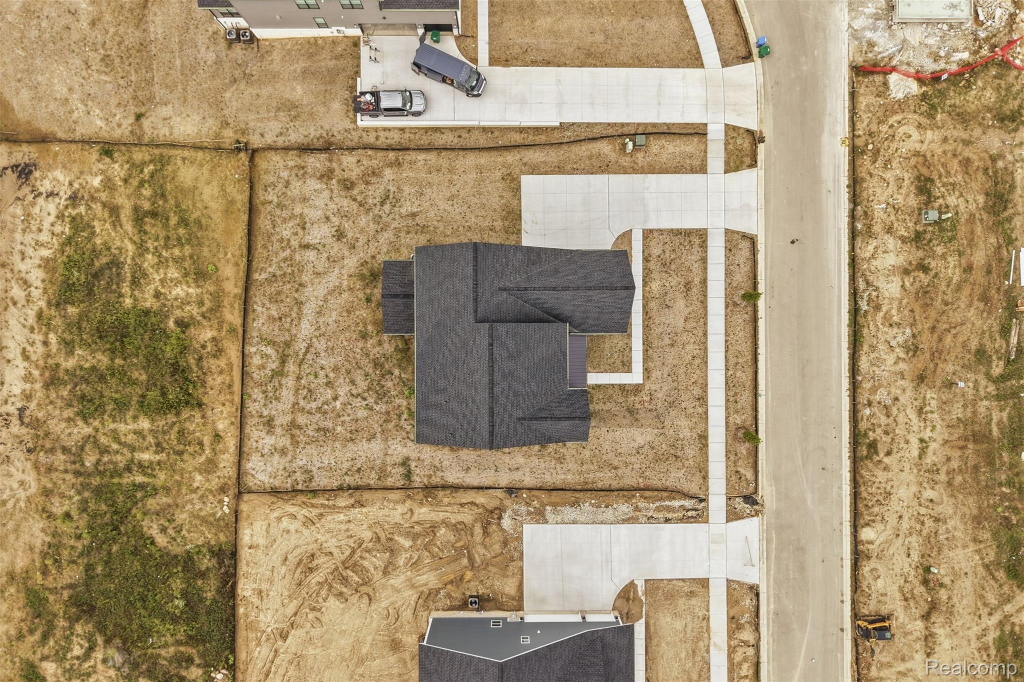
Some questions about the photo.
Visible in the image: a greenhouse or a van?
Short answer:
van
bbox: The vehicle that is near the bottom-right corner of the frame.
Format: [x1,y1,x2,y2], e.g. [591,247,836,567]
[860,617,897,645]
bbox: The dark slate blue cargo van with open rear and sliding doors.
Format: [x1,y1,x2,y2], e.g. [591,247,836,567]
[406,34,487,97]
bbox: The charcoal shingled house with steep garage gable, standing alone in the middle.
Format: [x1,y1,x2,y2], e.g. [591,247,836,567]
[380,242,635,450]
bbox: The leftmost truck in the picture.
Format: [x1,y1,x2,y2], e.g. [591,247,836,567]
[354,86,427,116]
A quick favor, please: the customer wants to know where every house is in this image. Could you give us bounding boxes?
[380,242,635,450]
[417,607,634,682]
[195,0,473,56]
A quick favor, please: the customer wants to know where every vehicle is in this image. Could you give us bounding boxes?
[860,617,897,645]
[354,86,427,116]
[406,34,487,97]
